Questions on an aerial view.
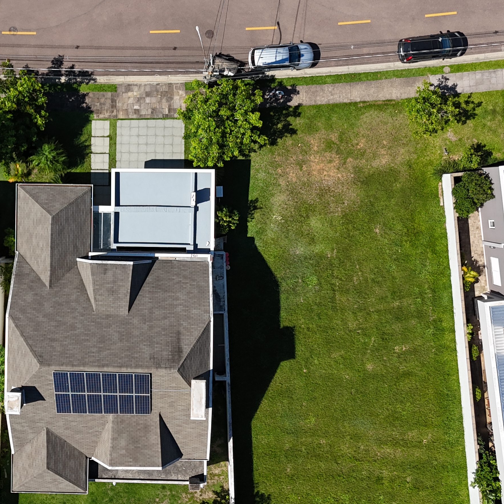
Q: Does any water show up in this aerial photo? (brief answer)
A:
No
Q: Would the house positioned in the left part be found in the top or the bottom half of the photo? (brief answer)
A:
bottom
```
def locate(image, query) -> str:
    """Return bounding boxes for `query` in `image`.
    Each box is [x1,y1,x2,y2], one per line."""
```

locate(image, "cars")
[394,29,460,65]
[247,40,314,75]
